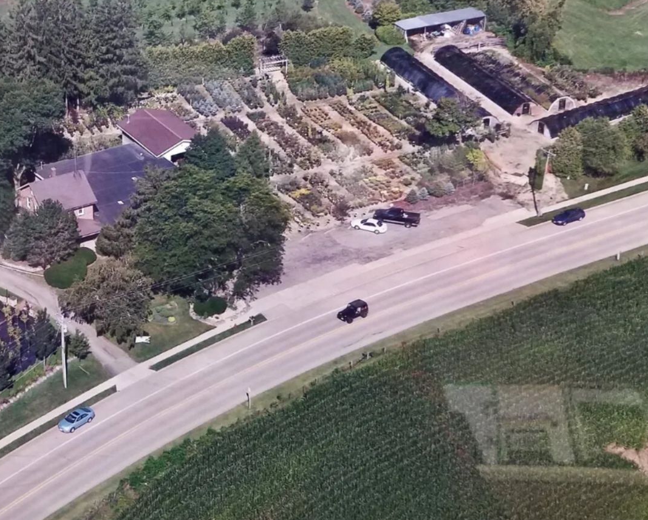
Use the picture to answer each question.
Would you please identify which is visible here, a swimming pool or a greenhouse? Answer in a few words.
greenhouse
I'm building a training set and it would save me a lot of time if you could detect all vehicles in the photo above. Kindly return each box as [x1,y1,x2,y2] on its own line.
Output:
[336,297,370,324]
[372,206,420,229]
[351,217,388,234]
[552,207,588,226]
[56,404,98,434]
